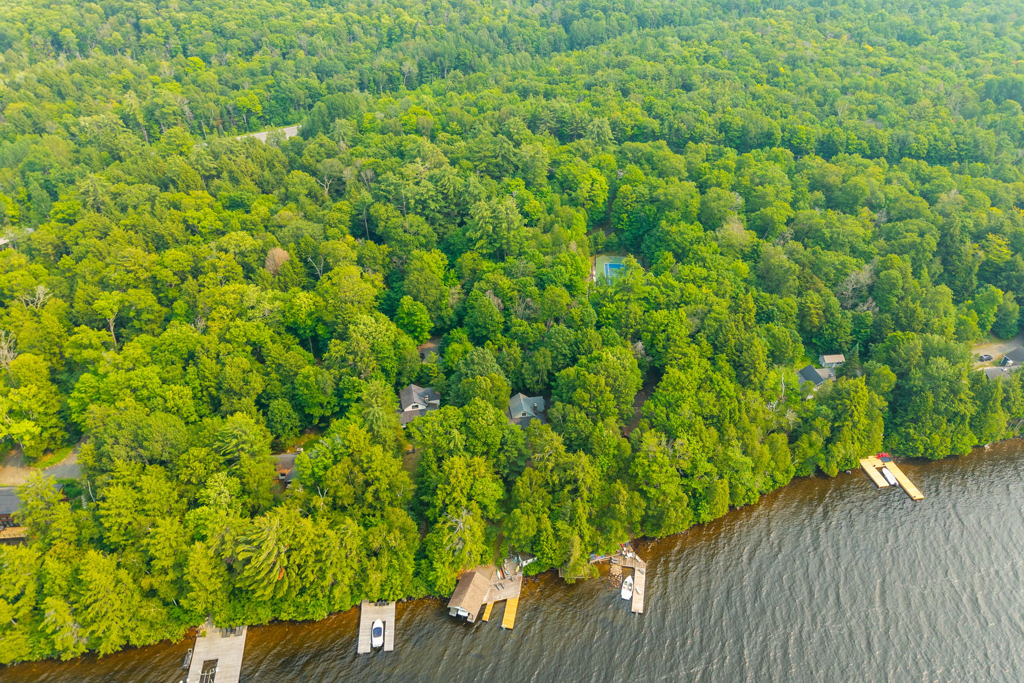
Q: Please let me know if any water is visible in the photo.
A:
Yes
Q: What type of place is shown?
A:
forest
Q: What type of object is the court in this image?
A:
tennis court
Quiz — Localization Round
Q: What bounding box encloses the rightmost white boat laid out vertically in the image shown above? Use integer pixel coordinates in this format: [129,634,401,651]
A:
[621,576,633,602]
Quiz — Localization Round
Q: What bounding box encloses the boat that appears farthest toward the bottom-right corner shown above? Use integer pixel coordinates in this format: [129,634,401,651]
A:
[883,467,899,487]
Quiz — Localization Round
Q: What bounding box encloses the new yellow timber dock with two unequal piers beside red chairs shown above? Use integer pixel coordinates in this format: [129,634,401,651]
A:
[860,456,924,500]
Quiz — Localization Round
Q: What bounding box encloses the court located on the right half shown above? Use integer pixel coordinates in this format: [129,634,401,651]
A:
[596,255,653,309]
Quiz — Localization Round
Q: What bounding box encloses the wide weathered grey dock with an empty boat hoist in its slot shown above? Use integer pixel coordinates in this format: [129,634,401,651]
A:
[187,626,247,683]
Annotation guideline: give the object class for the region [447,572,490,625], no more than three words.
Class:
building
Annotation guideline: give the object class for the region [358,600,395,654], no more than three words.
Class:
pier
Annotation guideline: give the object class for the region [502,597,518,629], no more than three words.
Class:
pier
